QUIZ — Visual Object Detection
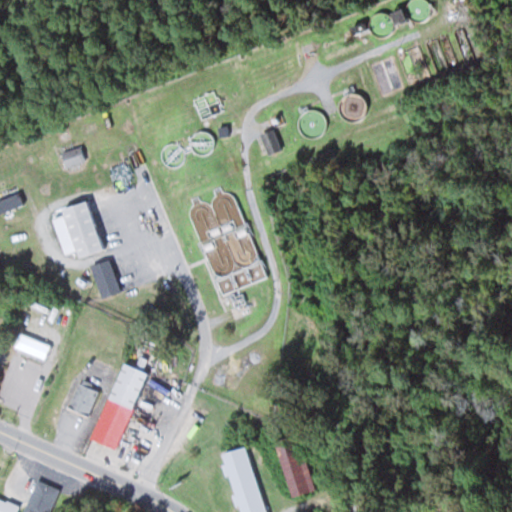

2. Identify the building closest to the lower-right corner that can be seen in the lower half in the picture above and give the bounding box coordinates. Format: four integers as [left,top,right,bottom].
[276,444,314,498]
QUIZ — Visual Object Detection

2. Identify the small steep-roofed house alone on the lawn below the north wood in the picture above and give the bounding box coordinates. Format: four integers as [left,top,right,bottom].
[62,146,87,168]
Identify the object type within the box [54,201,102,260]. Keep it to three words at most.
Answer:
building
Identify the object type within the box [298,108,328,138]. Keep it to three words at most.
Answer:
storage tank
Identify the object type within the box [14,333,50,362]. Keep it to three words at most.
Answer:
building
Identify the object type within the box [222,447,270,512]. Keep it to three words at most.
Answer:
barn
